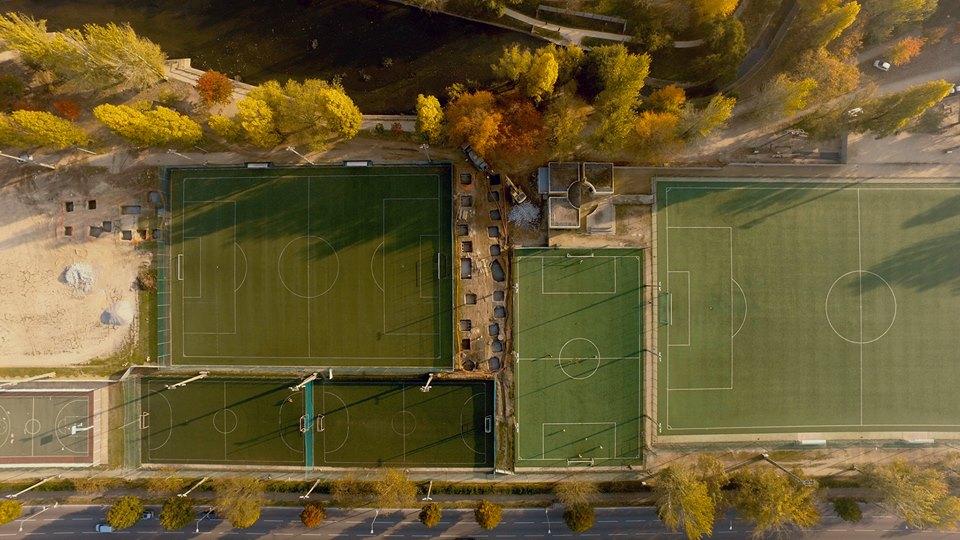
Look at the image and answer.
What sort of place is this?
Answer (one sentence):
It's a sports ground.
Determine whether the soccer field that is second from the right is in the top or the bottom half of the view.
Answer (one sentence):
The soccer field that is second from the right sits in the bottom half of the picture.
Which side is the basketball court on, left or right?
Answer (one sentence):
The basketball court sits on the left side.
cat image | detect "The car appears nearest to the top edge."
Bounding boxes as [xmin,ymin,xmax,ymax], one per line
[874,59,892,72]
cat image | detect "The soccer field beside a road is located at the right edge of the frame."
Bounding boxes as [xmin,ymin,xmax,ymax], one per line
[657,183,960,434]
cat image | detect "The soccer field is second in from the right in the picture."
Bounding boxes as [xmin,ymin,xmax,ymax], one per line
[515,249,643,469]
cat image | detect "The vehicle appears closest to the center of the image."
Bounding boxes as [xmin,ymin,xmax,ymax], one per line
[502,172,531,208]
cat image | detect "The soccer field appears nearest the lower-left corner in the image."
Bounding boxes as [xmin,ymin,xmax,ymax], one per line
[141,377,312,467]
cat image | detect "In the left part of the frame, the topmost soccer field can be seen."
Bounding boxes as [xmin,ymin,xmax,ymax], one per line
[171,165,454,368]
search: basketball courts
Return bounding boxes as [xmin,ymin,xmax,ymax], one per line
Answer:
[0,390,94,465]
